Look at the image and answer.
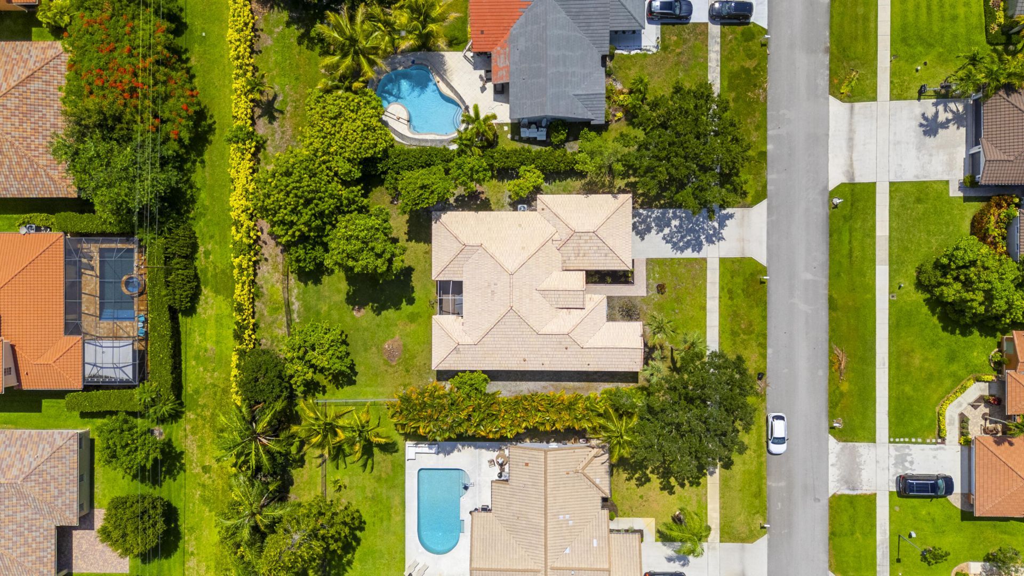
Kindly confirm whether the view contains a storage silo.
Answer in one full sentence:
No, this view has no storage silo in it.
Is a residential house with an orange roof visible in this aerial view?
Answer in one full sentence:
Yes, there is a residential house with an orange roof in the image.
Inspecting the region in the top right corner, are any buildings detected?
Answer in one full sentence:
Yes, a building is visible in the top right corner.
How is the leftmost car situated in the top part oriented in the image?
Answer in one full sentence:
From this overhead view, the leftmost car situated in the top part appears to run from left to right.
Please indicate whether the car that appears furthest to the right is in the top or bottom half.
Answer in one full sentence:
Seen from above, the car that appears furthest to the right lies in the bottom half of the view.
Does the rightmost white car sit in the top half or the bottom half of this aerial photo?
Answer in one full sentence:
The rightmost white car is in the bottom half of the image.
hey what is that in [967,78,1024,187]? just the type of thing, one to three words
house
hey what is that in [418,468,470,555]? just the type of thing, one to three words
swimming pool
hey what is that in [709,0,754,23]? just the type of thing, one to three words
car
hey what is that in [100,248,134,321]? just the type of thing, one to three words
swimming pool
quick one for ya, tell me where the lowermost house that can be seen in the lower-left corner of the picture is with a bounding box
[0,429,89,576]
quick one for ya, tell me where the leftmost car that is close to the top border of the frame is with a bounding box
[647,1,693,22]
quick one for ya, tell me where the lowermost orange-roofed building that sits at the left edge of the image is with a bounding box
[0,232,92,394]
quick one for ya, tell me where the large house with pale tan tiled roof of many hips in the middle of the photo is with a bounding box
[432,194,644,370]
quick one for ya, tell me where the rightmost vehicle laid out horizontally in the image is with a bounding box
[896,475,954,500]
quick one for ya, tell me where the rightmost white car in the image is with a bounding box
[767,413,790,455]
